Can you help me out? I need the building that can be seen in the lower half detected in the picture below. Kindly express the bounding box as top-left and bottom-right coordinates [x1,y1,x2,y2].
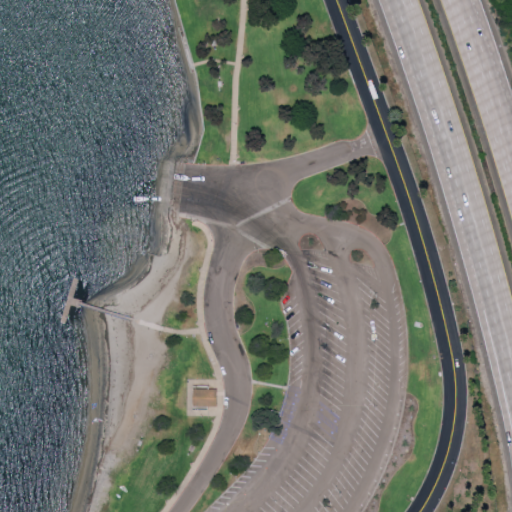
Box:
[192,387,217,410]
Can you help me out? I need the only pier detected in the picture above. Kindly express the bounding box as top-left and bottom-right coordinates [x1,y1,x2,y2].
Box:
[60,278,141,324]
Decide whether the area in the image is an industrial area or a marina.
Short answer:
marina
